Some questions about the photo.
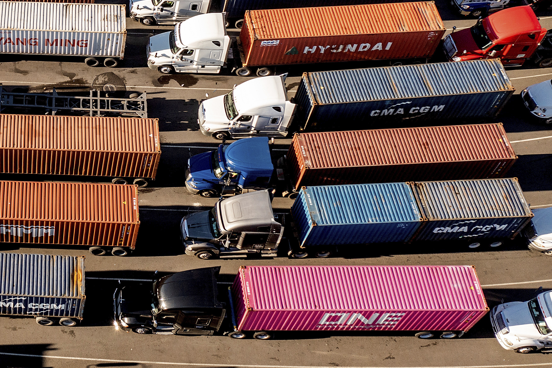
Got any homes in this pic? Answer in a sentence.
No, I can see no home in this picture.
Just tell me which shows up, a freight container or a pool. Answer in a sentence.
The one in the frame is a freight container.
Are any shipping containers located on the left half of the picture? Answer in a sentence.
Yes, on the left half of the picture there is a shipping container.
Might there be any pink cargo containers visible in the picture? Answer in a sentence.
Yes, you can see a pink cargo container in this photo.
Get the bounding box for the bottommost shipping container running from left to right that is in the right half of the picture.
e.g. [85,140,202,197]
[232,267,486,333]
